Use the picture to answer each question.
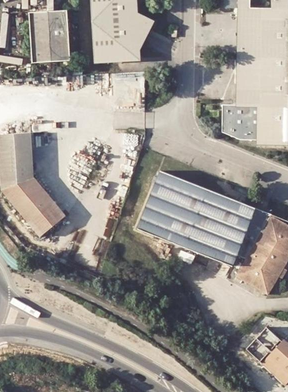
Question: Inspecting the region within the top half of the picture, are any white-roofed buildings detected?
Yes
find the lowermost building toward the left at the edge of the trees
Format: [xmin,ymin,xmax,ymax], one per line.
[0,133,65,236]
